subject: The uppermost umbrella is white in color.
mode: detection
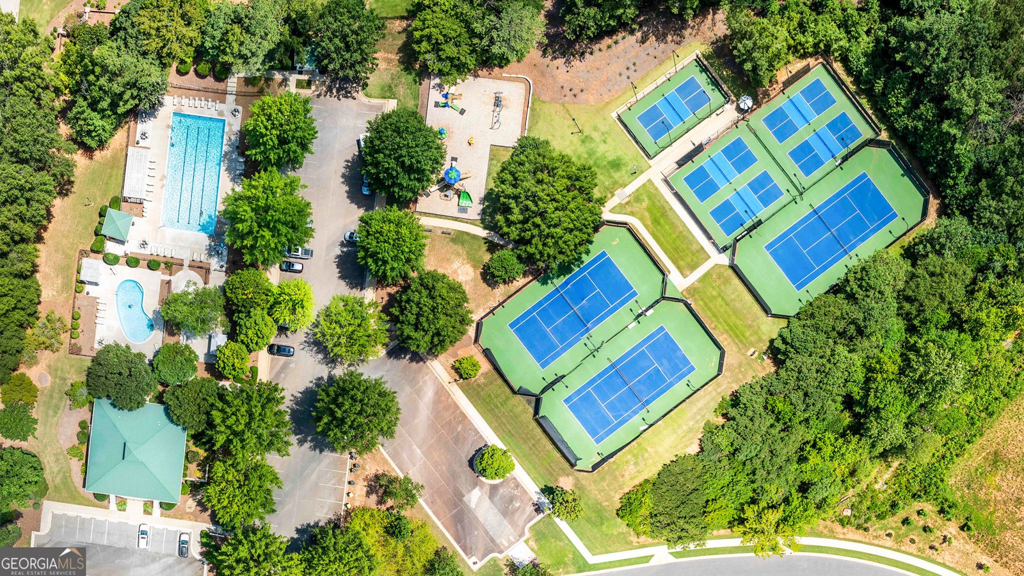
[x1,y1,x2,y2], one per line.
[739,94,753,108]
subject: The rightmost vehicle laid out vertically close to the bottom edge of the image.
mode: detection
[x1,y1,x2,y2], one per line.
[176,532,190,559]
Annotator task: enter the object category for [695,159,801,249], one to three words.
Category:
sports court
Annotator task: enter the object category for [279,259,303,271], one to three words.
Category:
vehicle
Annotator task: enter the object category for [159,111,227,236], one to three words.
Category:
swimming pool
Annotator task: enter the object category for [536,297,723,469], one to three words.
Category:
tennis court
